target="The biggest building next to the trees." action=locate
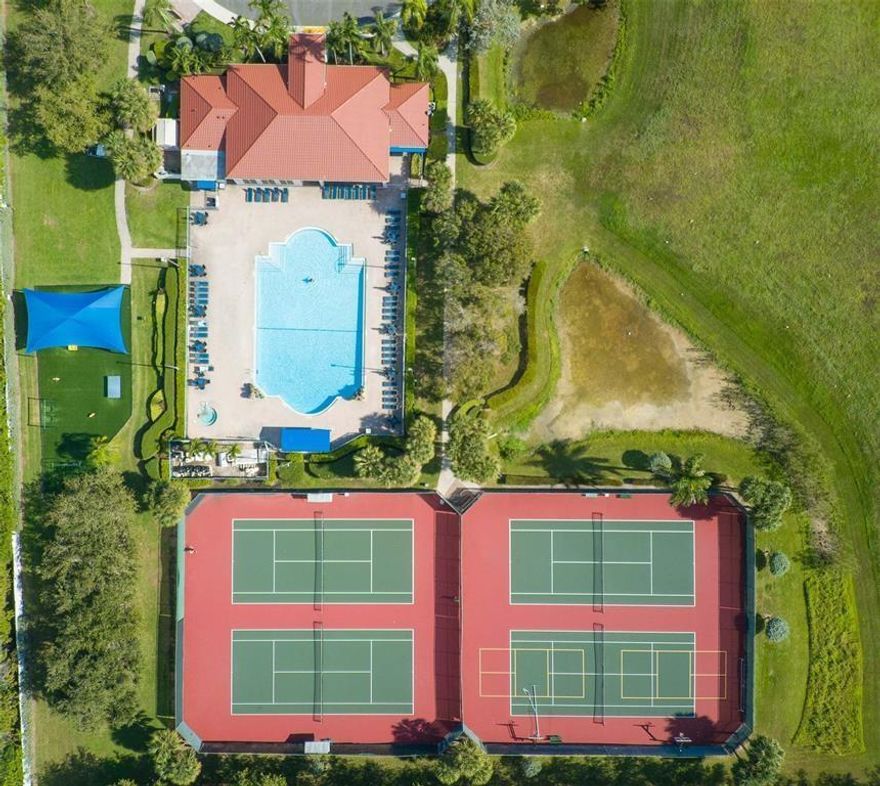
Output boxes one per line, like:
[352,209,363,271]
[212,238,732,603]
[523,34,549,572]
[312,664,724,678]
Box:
[180,33,430,191]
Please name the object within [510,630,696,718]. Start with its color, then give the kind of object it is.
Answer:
green tennis court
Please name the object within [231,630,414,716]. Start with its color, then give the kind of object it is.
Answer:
green tennis court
